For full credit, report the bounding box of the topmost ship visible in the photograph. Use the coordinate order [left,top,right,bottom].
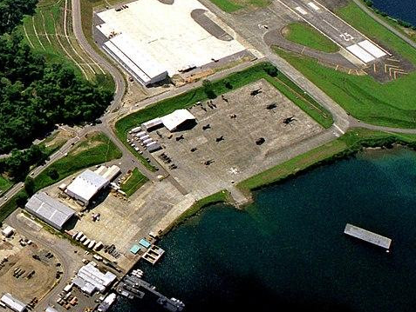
[344,223,391,250]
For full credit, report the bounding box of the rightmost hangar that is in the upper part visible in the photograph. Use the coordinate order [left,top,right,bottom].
[162,112,198,135]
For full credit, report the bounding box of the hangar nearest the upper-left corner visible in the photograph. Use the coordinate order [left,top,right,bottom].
[102,34,169,90]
